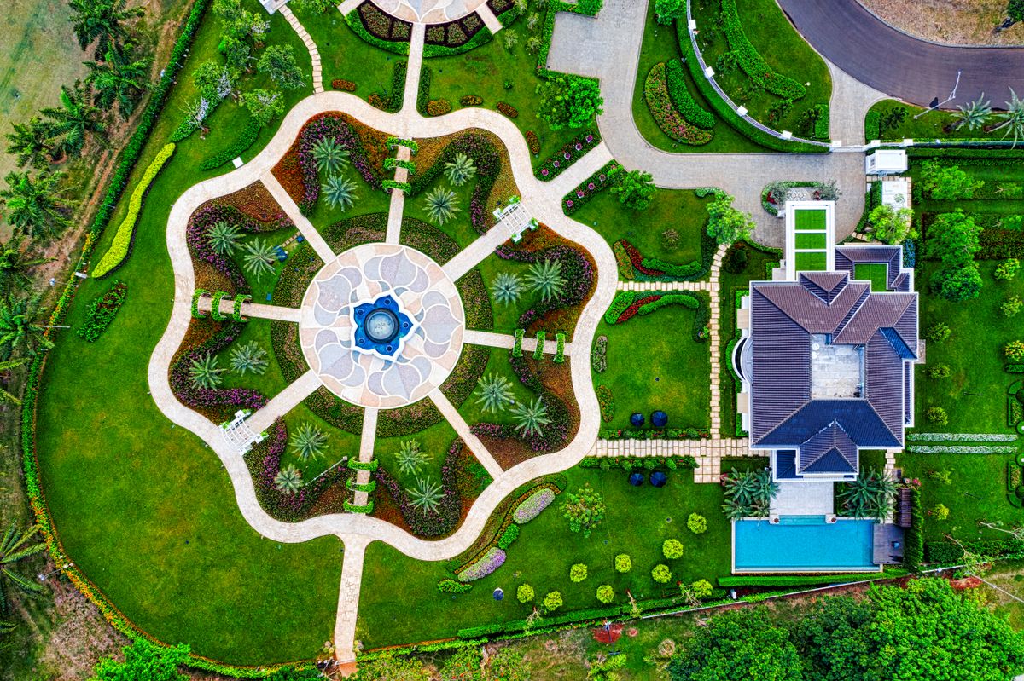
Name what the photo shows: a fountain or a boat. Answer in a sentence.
This aerial view contains a fountain.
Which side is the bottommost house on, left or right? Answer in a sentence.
The bottommost house is on the right side of the image.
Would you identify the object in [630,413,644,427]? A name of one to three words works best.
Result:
umbrella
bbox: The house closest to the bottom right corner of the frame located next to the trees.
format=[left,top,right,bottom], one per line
[726,201,925,482]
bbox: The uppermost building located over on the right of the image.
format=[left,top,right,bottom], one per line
[866,149,907,180]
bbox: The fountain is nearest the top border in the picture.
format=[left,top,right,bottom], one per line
[350,289,420,362]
